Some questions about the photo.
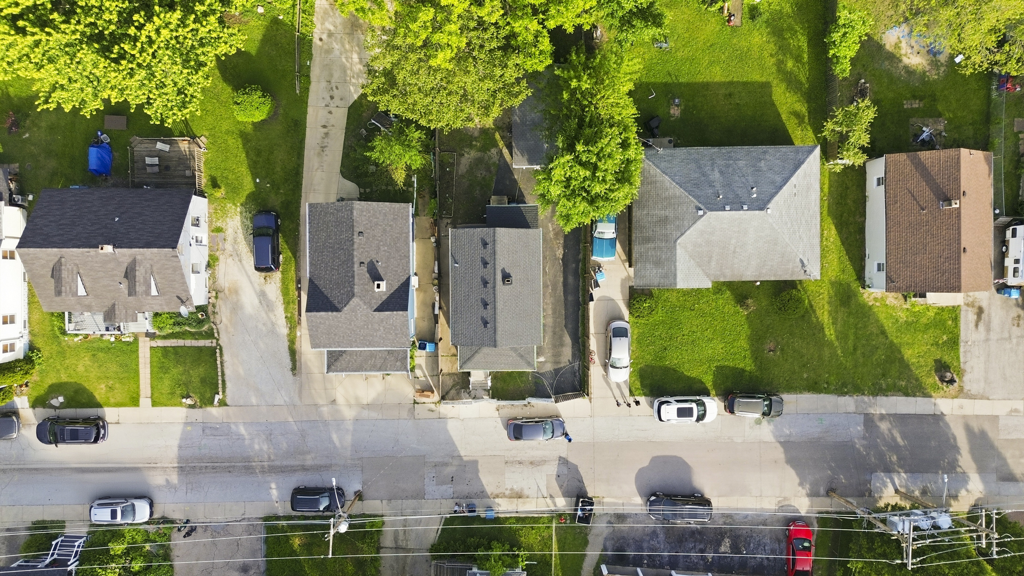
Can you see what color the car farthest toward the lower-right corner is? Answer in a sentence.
From above, the car farthest toward the lower-right corner appears red.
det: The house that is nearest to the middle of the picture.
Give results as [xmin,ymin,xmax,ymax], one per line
[449,200,544,390]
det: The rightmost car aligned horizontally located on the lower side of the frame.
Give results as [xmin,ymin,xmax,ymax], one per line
[722,392,782,421]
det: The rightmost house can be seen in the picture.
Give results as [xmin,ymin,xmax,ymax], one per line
[865,147,997,305]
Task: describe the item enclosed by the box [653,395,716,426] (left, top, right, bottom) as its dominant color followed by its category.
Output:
white car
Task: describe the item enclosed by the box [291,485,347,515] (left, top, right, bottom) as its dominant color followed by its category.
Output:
black car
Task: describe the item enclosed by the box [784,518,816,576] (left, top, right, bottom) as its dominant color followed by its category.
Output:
red car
